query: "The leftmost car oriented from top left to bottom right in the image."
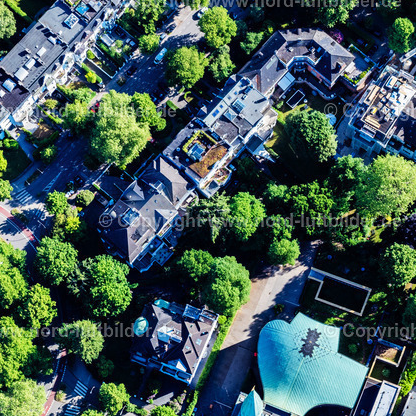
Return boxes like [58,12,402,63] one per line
[95,195,111,209]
